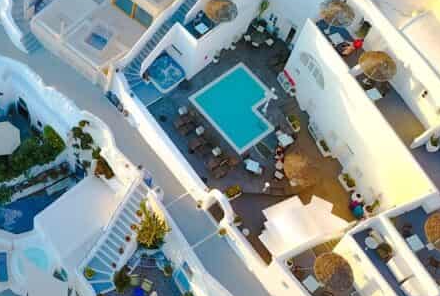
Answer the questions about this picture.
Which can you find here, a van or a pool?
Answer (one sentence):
The one in the frame is a pool.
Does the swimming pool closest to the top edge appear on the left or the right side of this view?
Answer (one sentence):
The swimming pool closest to the top edge is on the left side of the image.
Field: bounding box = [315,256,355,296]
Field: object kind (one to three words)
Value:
umbrella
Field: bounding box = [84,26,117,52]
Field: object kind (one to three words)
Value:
swimming pool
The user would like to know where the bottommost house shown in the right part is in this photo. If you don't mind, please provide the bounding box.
[248,195,346,270]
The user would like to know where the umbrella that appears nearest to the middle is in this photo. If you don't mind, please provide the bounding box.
[282,160,315,192]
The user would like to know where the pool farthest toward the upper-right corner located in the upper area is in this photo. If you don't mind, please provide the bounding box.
[190,63,274,155]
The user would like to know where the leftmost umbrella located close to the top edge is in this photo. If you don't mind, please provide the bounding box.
[206,2,236,29]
